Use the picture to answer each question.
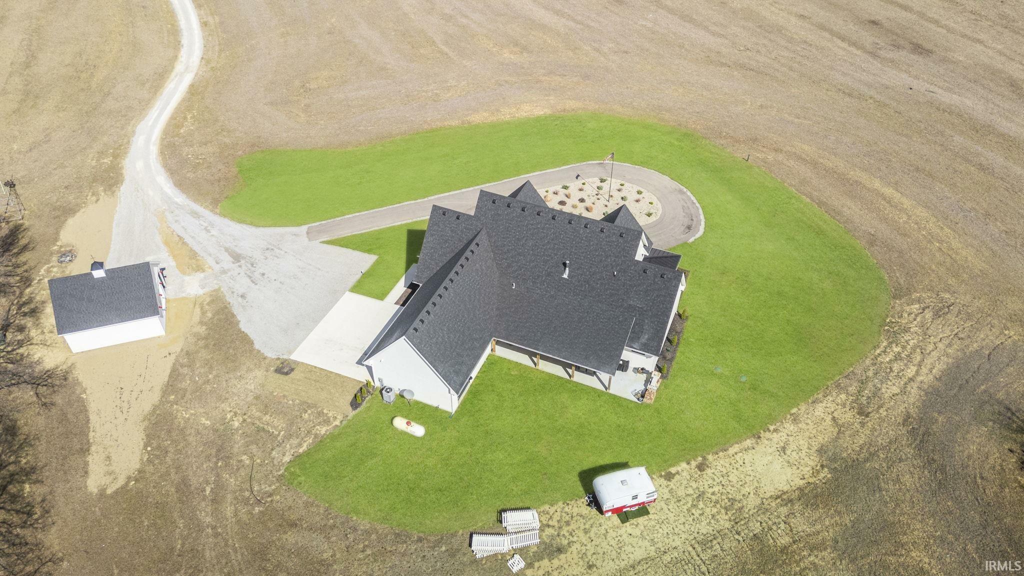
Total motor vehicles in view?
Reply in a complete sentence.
In total, there is 1 motor vehicle in the scene.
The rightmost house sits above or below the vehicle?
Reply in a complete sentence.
The rightmost house appears above the vehicle in the picture.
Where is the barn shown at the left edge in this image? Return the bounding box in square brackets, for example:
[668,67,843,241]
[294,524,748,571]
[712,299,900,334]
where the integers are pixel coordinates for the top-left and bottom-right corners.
[48,252,167,353]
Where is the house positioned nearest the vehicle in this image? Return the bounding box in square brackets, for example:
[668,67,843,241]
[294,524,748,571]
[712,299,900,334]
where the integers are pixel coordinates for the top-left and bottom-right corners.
[364,180,690,416]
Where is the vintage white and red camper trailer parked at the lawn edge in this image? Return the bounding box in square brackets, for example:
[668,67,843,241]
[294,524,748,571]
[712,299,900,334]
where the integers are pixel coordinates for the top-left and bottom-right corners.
[589,467,659,517]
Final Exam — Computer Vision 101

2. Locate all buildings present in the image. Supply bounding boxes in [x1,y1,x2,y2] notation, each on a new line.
[48,252,167,353]
[364,180,690,416]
